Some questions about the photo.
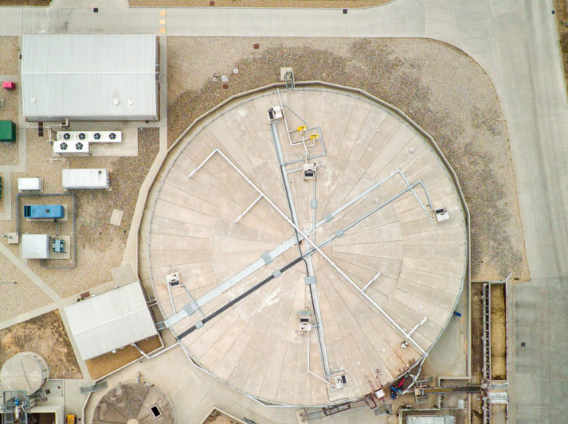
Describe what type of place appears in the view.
industrial area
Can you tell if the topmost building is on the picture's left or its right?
left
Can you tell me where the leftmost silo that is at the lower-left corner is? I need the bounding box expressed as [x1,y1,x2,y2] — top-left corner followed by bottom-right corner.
[0,348,53,401]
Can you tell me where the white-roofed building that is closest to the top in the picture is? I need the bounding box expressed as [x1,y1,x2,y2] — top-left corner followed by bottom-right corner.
[20,35,159,122]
